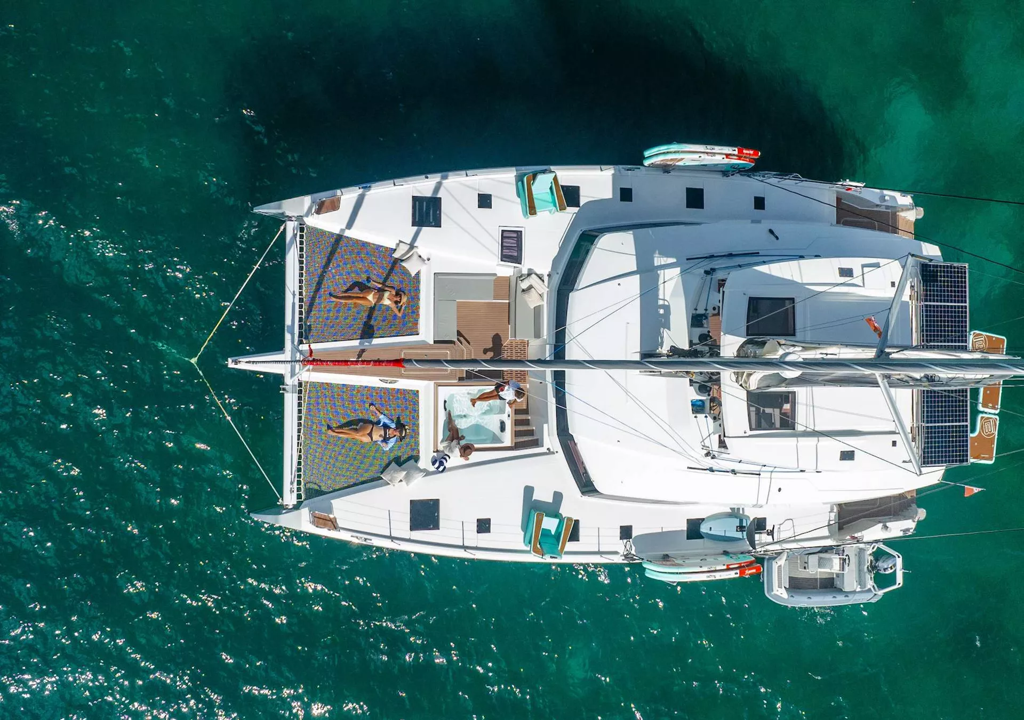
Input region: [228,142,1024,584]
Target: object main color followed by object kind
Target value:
white boat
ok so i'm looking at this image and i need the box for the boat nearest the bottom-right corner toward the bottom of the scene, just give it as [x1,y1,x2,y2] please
[763,542,910,607]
